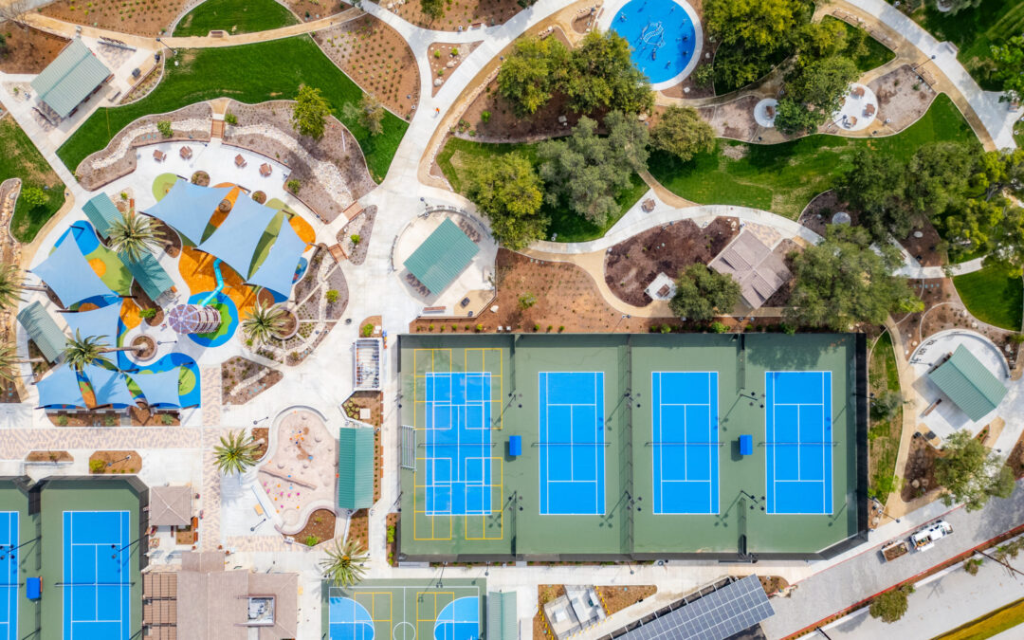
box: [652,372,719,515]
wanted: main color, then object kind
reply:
blue tennis court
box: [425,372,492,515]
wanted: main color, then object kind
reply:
blue tennis court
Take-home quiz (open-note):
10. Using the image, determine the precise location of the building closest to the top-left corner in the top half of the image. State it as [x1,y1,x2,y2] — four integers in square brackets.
[30,37,114,118]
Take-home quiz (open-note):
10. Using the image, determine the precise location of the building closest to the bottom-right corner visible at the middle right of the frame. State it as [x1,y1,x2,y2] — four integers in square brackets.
[924,343,1008,422]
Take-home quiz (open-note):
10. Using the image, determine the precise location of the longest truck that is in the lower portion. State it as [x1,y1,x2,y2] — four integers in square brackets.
[911,522,958,553]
